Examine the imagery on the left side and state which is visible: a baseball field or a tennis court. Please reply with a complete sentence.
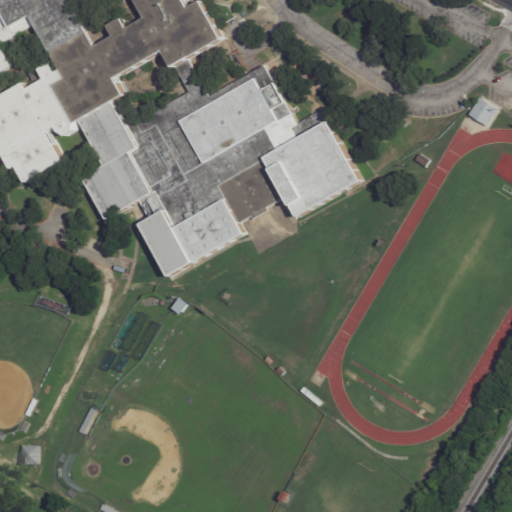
The one visible on the left side is a baseball field.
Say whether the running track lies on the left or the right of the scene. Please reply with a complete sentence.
You can find the running track on the right side of the picture.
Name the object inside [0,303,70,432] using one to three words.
baseball field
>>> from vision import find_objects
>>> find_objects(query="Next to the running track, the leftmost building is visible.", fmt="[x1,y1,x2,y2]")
[0,0,364,277]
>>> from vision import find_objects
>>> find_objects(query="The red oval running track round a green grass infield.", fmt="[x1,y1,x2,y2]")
[318,91,512,444]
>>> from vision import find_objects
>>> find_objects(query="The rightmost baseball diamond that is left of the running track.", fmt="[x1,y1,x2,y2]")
[71,314,326,512]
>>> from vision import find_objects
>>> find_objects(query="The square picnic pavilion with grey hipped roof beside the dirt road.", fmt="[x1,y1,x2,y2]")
[22,445,43,465]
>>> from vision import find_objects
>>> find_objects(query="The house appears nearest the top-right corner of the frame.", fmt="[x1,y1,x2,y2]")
[469,97,499,126]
